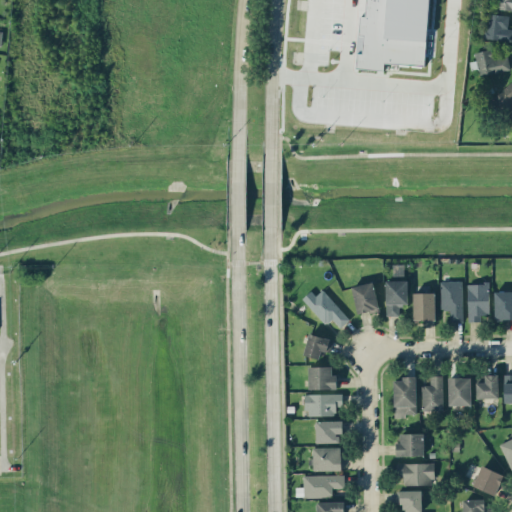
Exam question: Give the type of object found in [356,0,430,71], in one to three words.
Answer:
building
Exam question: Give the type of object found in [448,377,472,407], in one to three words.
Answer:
house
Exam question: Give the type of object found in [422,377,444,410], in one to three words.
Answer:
house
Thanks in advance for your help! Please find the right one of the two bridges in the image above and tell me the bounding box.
[263,154,282,232]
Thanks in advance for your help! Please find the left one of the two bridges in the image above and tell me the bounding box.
[228,154,247,232]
